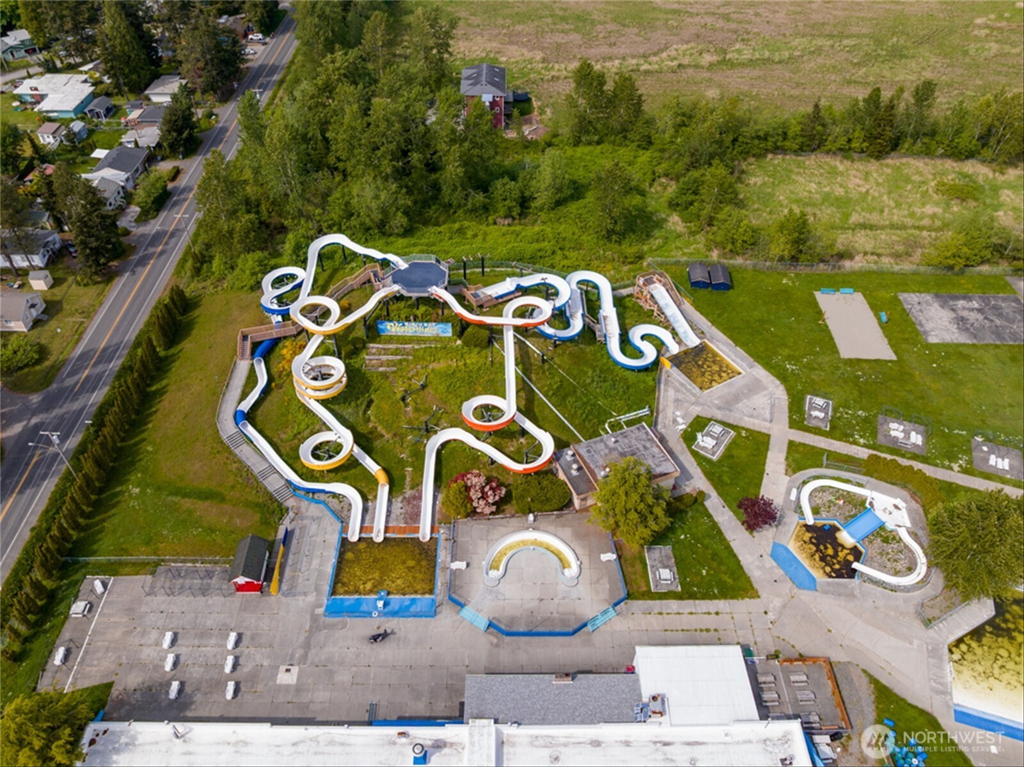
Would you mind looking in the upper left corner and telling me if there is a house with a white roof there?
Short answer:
Yes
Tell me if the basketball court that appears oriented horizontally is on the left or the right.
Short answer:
right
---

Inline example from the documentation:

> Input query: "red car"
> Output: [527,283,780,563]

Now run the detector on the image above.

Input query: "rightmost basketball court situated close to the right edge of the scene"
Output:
[898,293,1024,344]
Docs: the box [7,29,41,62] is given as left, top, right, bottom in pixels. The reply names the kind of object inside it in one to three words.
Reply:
building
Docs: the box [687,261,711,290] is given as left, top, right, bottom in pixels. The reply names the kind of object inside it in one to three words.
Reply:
shed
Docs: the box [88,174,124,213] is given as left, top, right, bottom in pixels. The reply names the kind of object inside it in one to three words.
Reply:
building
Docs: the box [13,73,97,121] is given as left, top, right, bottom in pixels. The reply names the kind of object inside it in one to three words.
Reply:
house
